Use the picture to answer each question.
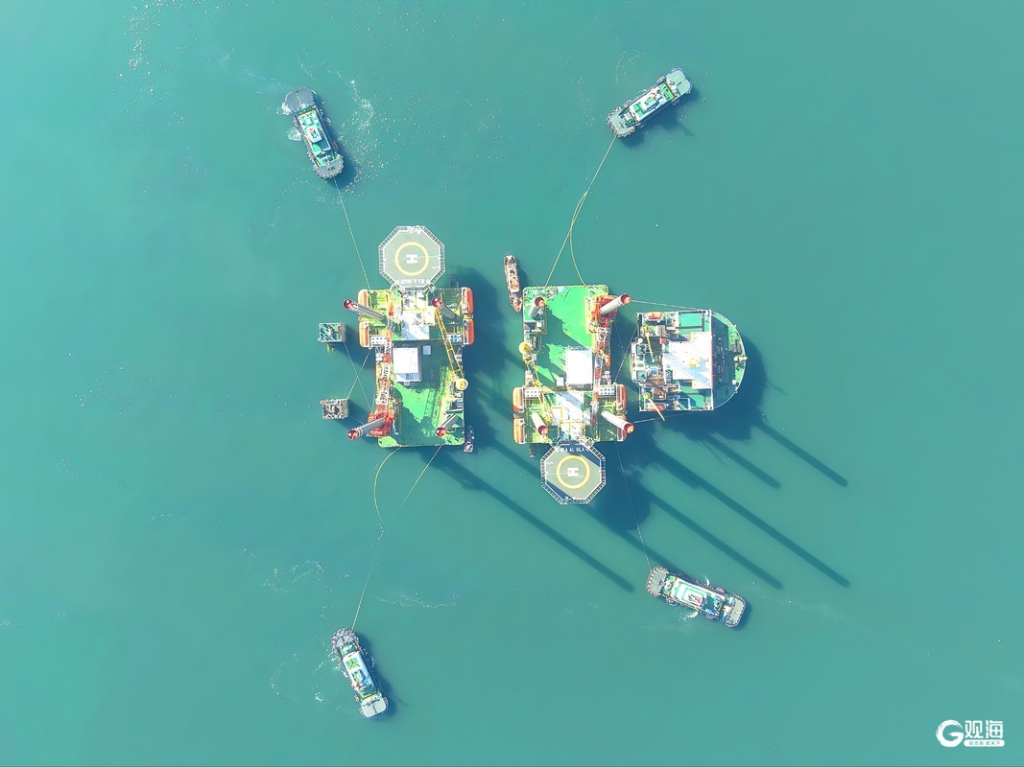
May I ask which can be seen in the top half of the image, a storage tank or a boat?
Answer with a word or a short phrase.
boat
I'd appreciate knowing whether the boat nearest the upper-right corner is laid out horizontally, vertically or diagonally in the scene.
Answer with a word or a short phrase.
diagonally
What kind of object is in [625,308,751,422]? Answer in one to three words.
ship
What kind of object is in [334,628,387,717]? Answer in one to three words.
boat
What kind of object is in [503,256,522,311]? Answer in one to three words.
boat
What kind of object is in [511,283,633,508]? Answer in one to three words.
vessel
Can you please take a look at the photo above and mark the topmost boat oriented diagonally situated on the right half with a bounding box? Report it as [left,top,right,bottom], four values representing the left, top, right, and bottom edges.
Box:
[605,66,695,142]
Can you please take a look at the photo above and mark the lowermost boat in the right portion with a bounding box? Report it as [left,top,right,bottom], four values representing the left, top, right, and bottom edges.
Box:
[645,564,746,623]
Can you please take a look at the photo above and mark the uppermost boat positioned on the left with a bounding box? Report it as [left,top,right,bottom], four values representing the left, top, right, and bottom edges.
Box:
[290,89,347,182]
